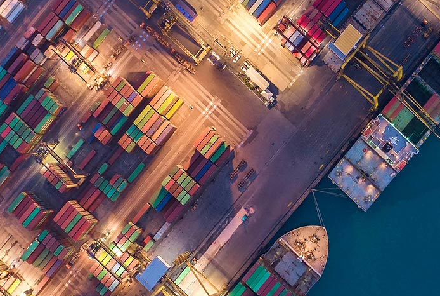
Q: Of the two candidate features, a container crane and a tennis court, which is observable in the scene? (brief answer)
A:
container crane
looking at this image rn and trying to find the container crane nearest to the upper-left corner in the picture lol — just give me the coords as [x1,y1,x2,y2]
[51,38,112,91]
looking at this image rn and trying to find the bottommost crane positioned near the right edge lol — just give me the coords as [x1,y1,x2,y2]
[320,24,440,145]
